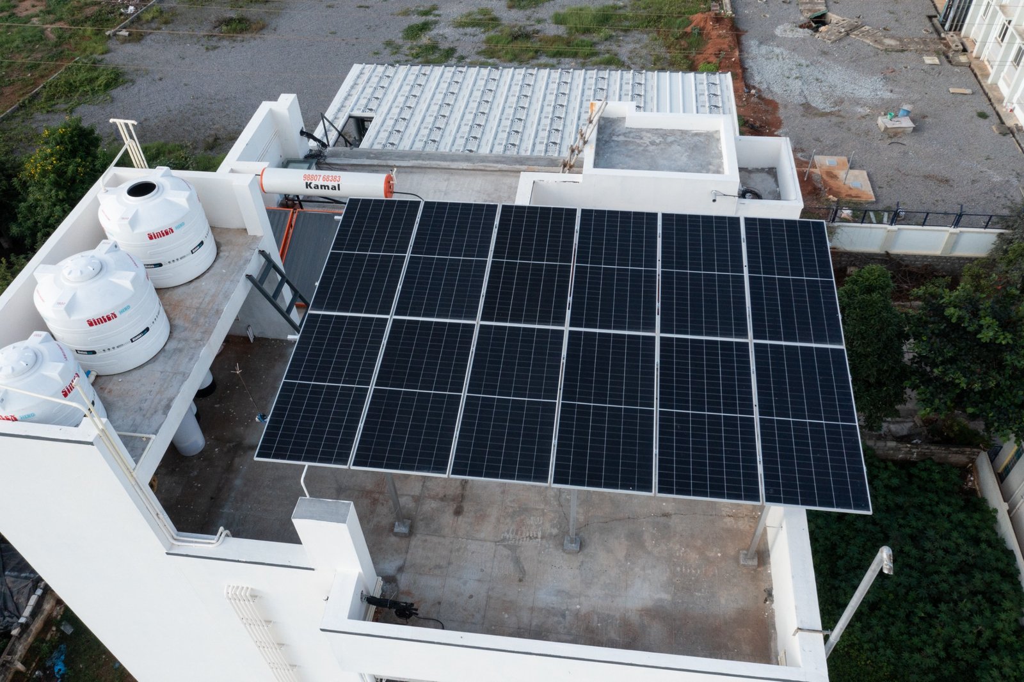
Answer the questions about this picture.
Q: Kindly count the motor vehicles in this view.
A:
0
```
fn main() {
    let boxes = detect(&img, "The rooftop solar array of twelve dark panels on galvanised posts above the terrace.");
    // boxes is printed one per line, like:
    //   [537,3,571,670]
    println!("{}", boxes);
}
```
[256,198,872,571]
